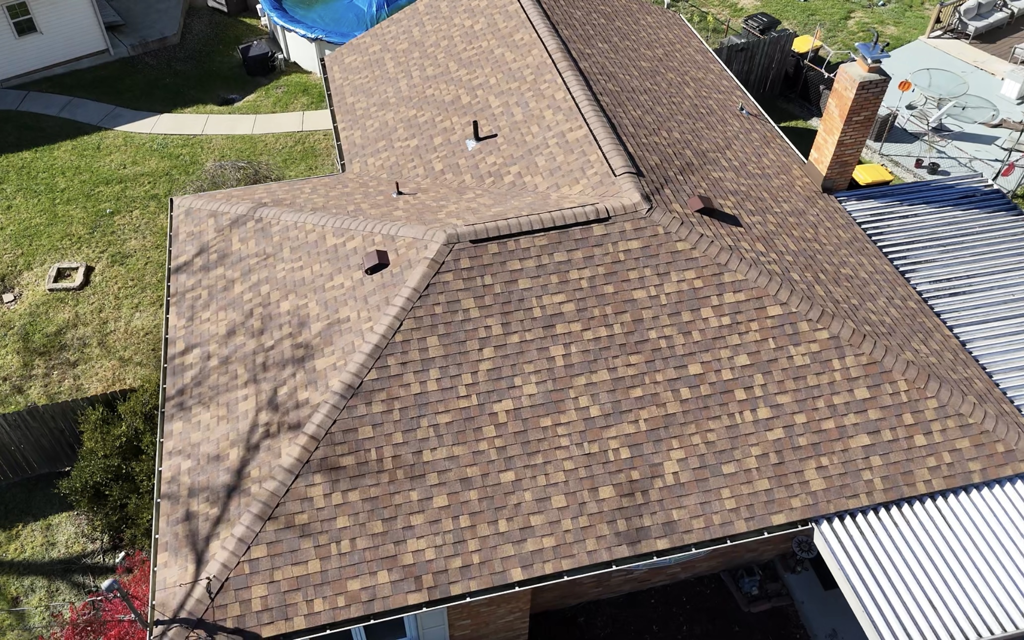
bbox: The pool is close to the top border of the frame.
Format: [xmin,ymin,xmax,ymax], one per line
[255,0,410,77]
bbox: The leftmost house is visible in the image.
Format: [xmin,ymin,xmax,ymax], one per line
[0,0,115,85]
